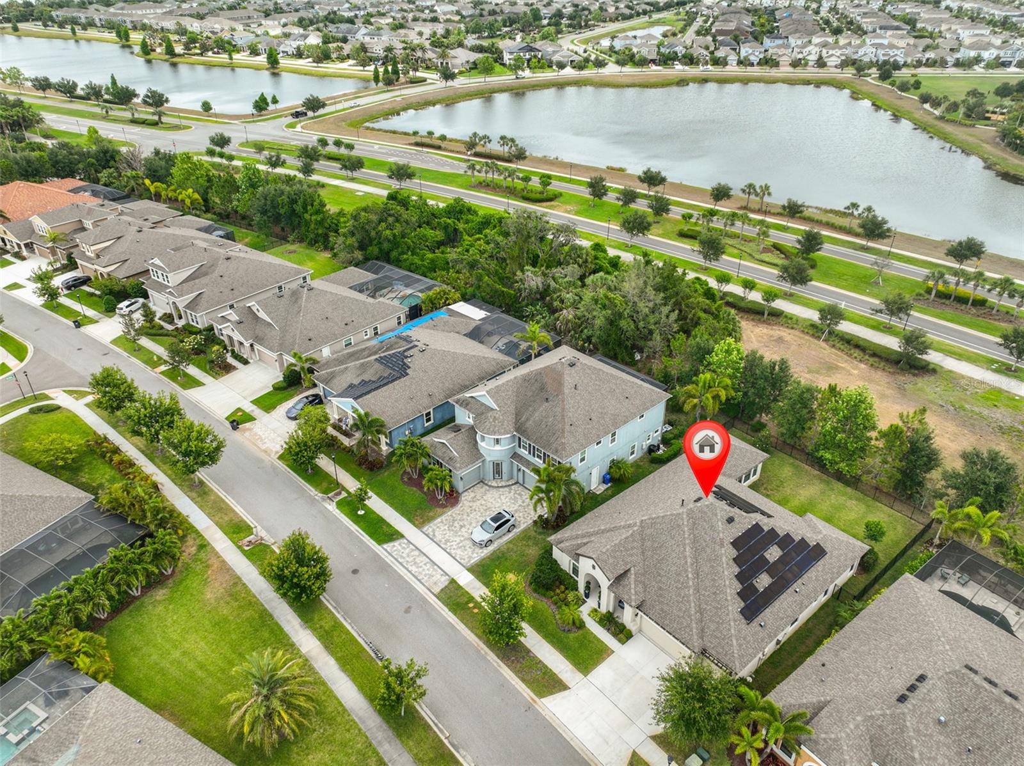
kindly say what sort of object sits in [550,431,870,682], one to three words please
house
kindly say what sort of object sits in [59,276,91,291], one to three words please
car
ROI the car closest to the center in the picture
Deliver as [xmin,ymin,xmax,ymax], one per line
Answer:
[470,511,520,551]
